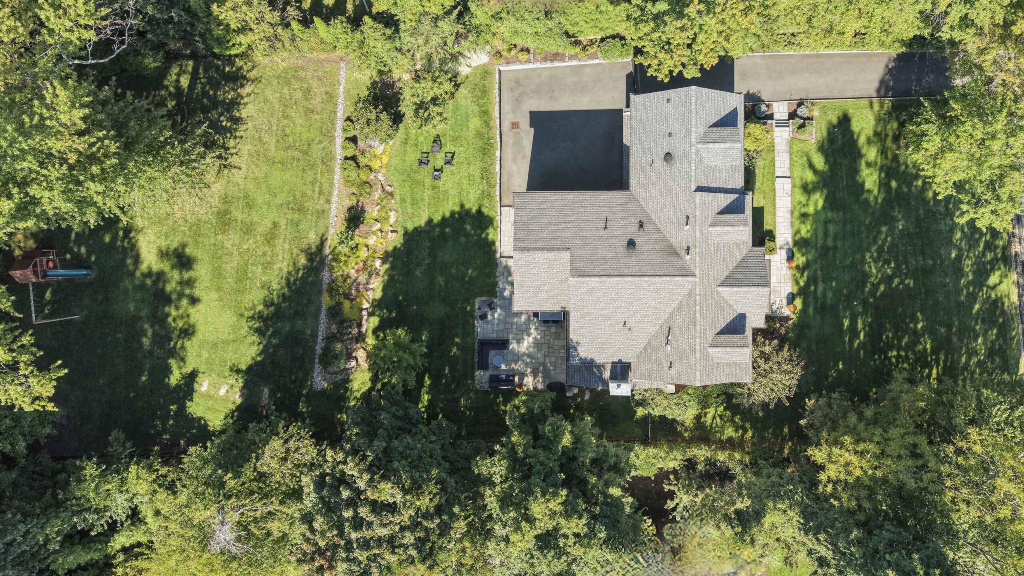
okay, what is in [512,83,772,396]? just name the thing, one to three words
house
